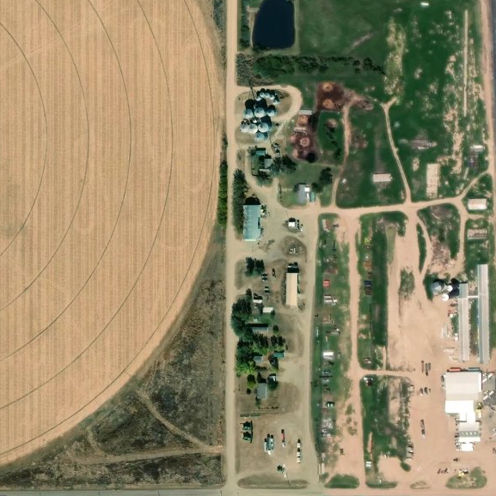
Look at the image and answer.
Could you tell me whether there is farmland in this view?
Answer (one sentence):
Yes, some farmland is visible.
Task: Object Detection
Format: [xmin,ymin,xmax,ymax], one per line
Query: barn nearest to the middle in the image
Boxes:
[243,205,261,240]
